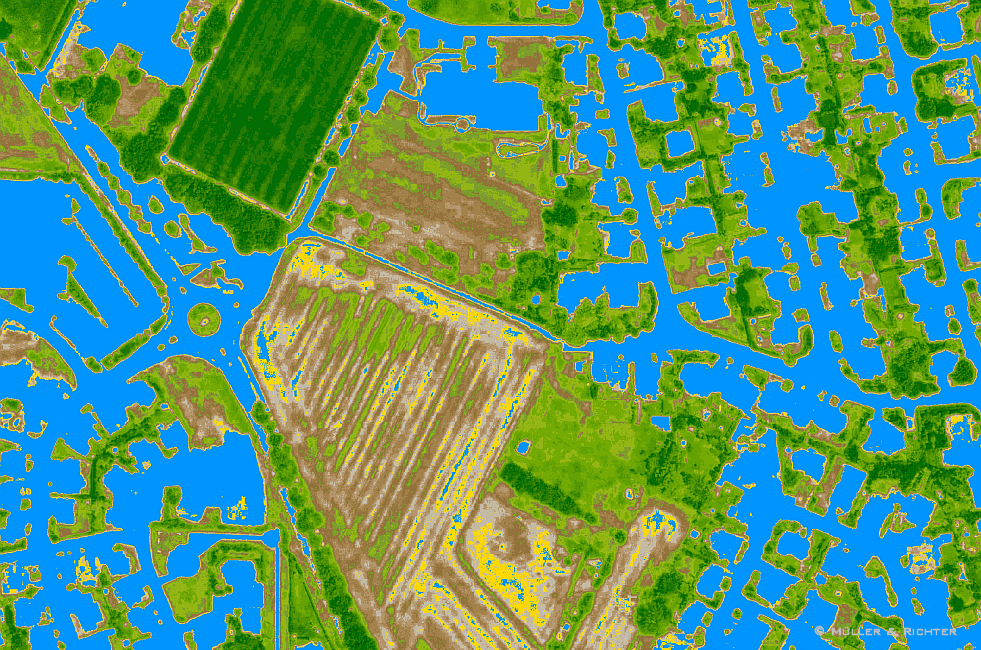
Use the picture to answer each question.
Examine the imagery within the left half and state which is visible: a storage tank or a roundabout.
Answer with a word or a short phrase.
roundabout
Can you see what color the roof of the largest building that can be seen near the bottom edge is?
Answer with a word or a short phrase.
blue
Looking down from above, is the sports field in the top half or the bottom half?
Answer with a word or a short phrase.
top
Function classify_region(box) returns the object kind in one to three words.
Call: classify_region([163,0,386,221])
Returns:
sports field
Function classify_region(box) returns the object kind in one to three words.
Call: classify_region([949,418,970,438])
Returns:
house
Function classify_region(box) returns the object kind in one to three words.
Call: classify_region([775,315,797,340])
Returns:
house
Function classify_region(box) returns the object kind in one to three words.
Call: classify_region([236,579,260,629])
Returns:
building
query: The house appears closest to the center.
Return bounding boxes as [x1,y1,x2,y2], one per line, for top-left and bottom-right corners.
[565,277,590,298]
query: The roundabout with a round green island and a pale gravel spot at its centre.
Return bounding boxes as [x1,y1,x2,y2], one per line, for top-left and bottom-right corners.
[175,290,234,349]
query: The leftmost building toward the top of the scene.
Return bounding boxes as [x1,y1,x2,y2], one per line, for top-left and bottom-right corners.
[429,95,535,114]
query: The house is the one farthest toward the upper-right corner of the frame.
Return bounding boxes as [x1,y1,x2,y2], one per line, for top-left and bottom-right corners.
[935,19,959,40]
